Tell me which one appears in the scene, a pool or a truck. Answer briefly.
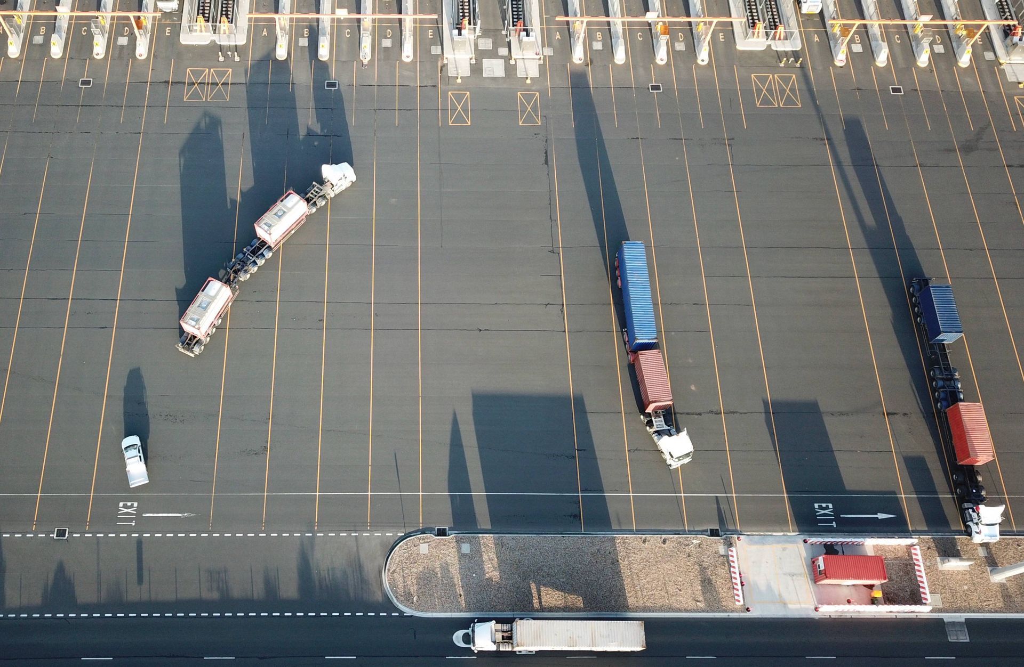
truck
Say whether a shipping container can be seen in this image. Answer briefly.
Yes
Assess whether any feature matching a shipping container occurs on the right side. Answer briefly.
Yes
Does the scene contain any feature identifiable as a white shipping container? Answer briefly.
Yes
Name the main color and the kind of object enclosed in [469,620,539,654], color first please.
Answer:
white truck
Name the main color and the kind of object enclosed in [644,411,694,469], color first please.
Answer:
white truck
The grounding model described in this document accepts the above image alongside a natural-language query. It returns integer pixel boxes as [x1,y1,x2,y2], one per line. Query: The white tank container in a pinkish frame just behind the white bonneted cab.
[255,190,308,247]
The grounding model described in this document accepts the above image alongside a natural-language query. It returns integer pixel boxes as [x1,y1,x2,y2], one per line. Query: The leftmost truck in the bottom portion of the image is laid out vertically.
[123,438,149,489]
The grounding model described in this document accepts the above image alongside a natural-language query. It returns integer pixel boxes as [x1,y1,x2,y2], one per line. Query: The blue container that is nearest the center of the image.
[618,241,659,350]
